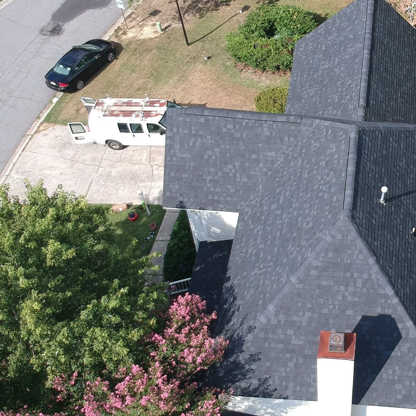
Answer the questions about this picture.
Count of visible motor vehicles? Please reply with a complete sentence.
The picture shows 2 motor vehicles.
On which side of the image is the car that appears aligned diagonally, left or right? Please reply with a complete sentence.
The car that appears aligned diagonally sits on the left side.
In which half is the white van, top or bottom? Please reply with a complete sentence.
The white van is in the top half of the image.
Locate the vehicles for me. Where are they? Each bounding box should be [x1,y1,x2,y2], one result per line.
[68,94,170,150]
[46,37,117,93]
